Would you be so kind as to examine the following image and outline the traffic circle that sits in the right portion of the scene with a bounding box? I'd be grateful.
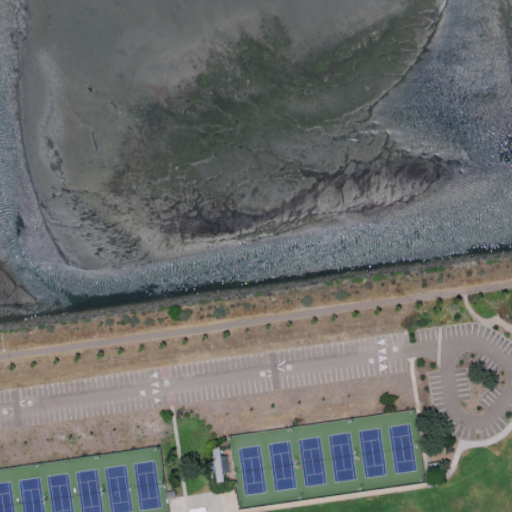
[441,335,512,428]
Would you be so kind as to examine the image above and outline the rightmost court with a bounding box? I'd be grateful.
[389,424,417,474]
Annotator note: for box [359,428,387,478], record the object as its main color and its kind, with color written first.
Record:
blue tennis court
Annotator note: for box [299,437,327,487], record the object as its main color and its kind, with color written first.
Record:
blue tennis court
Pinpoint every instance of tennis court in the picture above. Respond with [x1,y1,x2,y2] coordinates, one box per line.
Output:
[359,428,387,478]
[329,432,357,482]
[299,437,327,487]
[269,441,297,491]
[134,461,162,511]
[76,469,104,512]
[0,482,16,512]
[389,424,417,474]
[239,446,267,496]
[48,474,74,512]
[105,465,133,512]
[18,478,45,512]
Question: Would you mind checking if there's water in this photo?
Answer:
Yes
